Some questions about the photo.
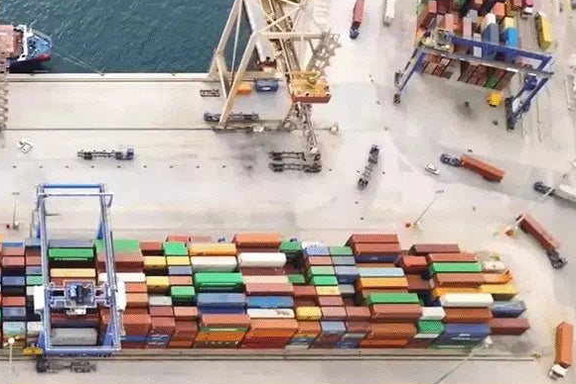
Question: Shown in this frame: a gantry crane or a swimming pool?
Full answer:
It is a gantry crane that can be seen here.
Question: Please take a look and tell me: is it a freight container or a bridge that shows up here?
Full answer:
The one in the frame is a freight container.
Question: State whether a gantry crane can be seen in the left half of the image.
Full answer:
Yes, I can see a gantry crane in the left half of the image.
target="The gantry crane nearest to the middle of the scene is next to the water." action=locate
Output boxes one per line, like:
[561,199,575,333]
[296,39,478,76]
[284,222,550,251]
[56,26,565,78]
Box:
[197,0,346,165]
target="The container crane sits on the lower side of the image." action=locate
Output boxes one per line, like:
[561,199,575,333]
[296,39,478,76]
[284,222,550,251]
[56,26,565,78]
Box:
[30,185,130,357]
